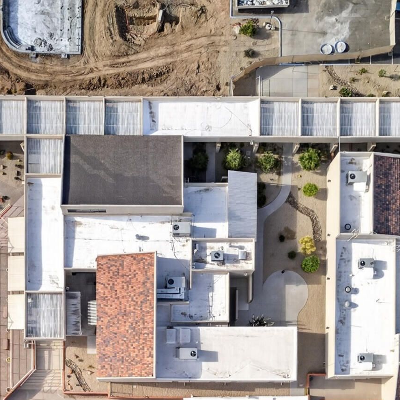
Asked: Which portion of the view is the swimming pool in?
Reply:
top left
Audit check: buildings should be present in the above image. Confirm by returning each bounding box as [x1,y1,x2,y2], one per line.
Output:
[324,152,400,400]
[25,134,298,385]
